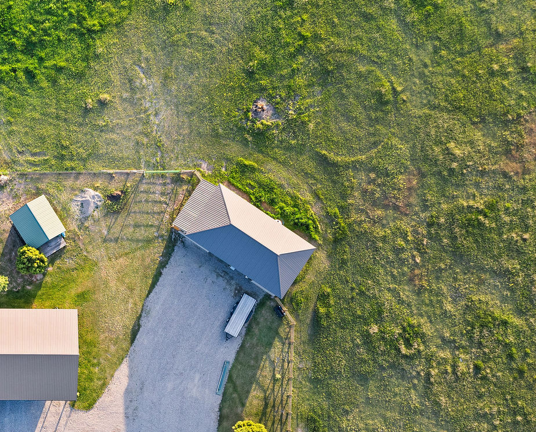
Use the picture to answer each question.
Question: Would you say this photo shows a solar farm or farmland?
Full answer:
The area seen from above is farmland.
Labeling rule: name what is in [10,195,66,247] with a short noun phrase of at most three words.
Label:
shed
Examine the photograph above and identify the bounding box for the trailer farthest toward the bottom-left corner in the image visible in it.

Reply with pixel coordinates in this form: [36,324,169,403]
[224,293,256,343]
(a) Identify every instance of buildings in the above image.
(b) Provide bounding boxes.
[0,307,78,401]
[173,180,317,300]
[10,195,66,247]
